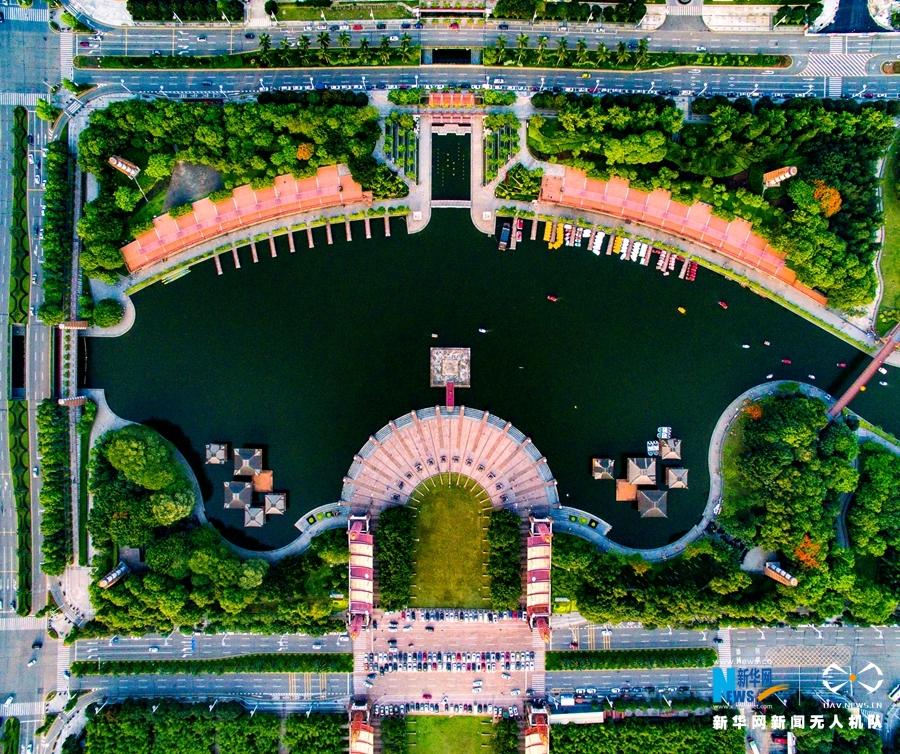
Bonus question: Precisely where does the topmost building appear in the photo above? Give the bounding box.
[430,93,475,108]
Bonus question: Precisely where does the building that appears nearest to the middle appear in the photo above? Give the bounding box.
[592,458,614,479]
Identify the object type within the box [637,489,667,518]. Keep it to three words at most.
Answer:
building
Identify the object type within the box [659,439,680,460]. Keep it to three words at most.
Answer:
building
